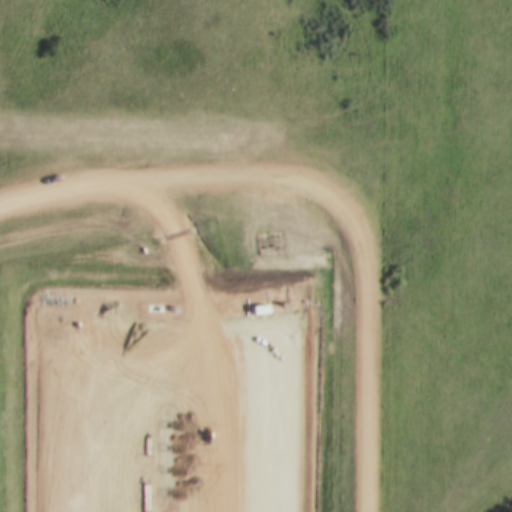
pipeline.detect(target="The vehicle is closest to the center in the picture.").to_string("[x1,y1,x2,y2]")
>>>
[245,302,274,318]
